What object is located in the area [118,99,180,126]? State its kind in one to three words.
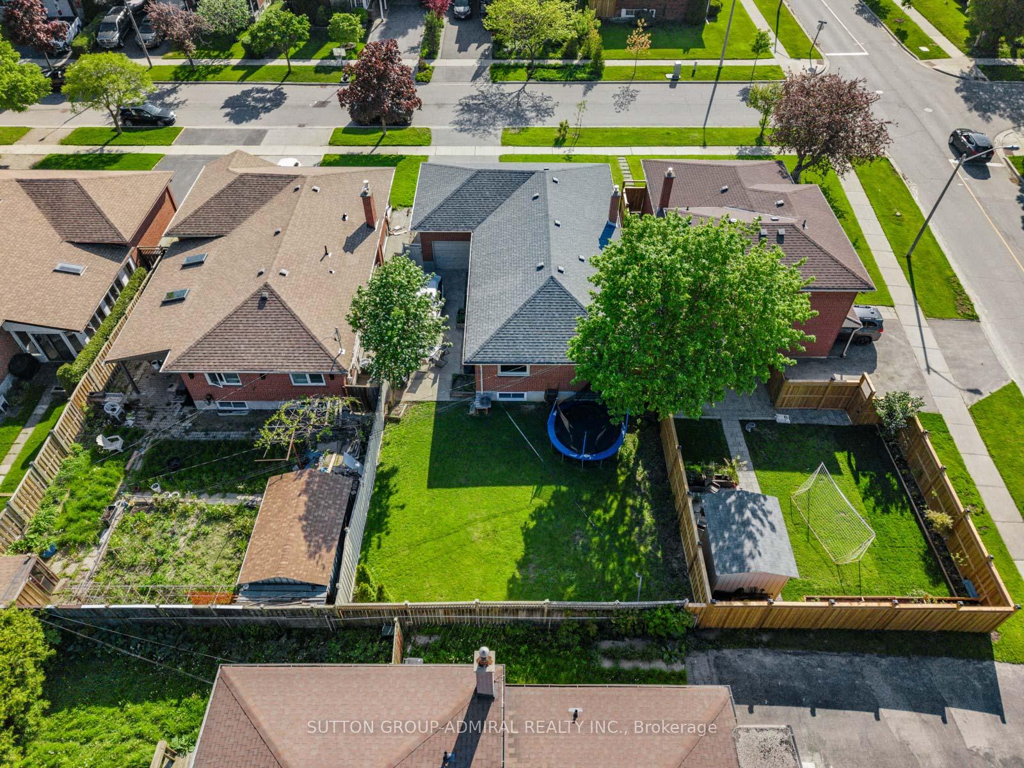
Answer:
car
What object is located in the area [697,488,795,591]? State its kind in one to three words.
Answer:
shed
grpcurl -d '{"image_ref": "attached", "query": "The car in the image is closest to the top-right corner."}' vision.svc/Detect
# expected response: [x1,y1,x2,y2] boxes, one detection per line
[947,129,1005,164]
